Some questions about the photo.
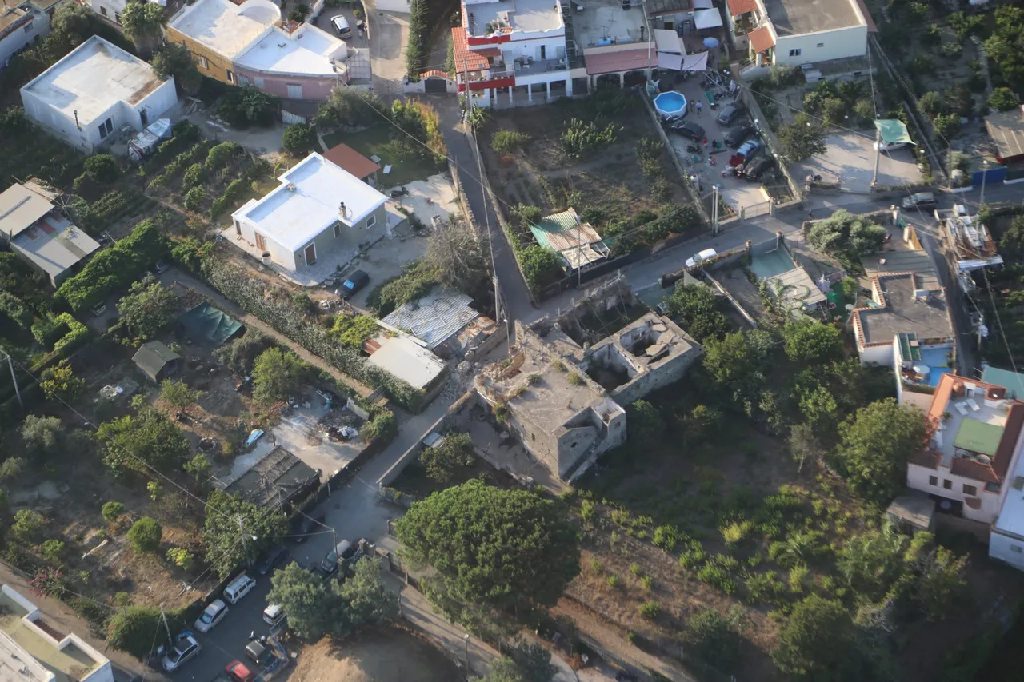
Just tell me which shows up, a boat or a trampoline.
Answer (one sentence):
The image shows a boat.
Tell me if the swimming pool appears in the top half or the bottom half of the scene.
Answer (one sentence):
The top half of the photo is where the swimming pool is.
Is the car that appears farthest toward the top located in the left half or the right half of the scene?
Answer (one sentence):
It is on the left.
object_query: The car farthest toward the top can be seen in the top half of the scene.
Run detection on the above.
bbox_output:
[330,14,350,37]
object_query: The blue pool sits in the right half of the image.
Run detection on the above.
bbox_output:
[653,92,689,124]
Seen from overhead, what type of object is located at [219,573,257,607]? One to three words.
van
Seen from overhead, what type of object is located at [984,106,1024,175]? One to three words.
shed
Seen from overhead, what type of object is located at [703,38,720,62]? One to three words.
umbrella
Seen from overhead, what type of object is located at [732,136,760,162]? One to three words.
car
